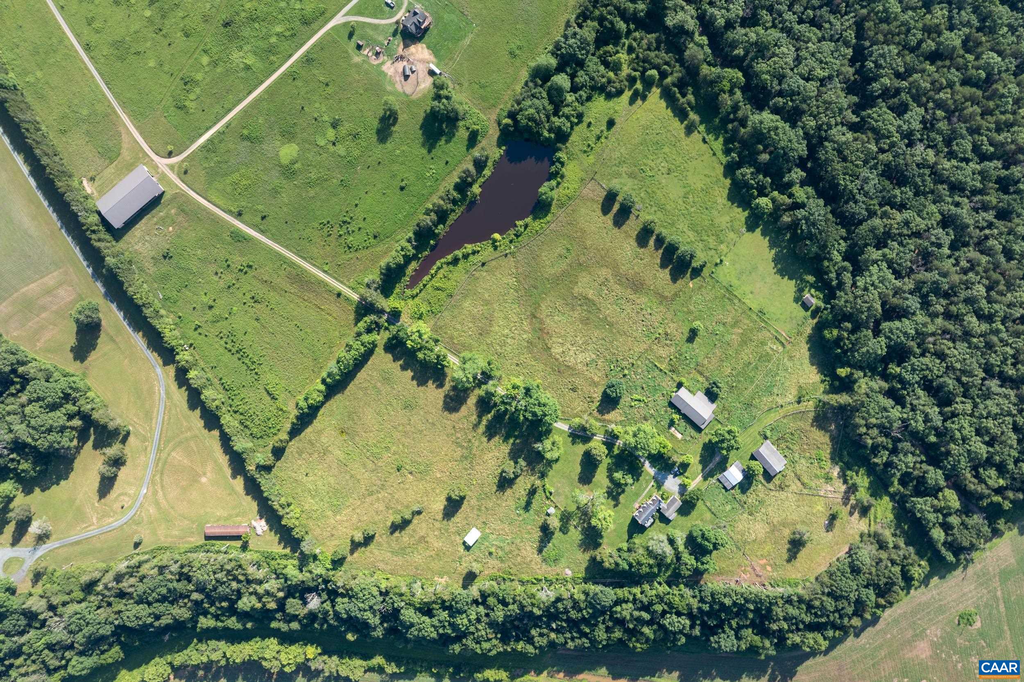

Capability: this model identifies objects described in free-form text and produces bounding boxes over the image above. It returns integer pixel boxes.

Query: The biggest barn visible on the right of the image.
[670,387,717,429]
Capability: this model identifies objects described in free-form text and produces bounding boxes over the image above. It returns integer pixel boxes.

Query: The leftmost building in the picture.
[96,164,167,229]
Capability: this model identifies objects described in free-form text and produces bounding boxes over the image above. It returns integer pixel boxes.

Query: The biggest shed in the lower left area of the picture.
[205,524,250,536]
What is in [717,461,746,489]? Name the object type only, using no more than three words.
shed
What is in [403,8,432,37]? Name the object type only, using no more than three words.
house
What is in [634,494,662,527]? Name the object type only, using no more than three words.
house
